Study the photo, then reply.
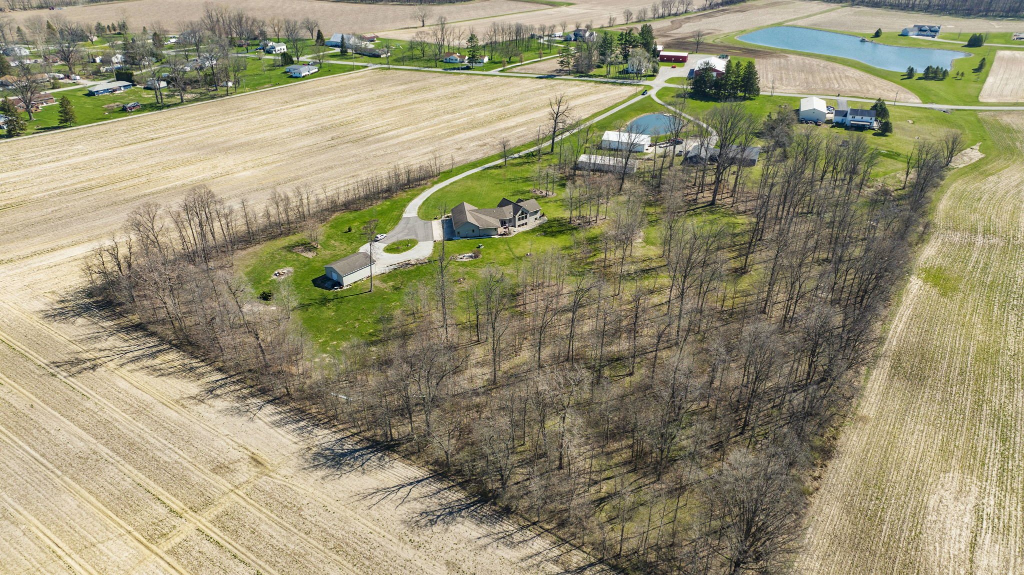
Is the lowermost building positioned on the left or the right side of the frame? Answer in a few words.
left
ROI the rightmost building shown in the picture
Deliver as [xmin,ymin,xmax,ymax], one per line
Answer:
[896,21,941,36]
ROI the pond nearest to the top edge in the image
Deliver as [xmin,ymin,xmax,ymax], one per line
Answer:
[738,26,968,72]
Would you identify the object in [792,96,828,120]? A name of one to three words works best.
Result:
barn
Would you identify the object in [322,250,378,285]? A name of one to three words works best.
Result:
building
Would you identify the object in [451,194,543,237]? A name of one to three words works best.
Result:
house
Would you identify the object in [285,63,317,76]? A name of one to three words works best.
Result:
house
